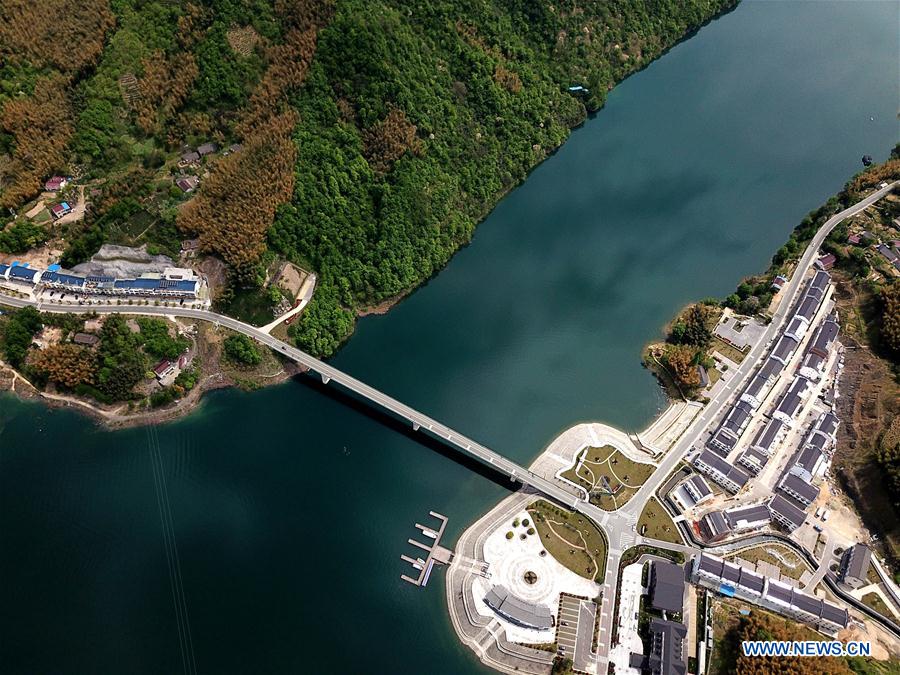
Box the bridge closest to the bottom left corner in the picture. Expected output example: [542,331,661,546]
[294,351,580,513]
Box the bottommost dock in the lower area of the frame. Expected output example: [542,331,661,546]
[401,512,457,586]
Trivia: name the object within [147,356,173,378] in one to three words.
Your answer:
house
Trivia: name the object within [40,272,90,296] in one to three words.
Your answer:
house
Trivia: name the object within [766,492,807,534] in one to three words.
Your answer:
building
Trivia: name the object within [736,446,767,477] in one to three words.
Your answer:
building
